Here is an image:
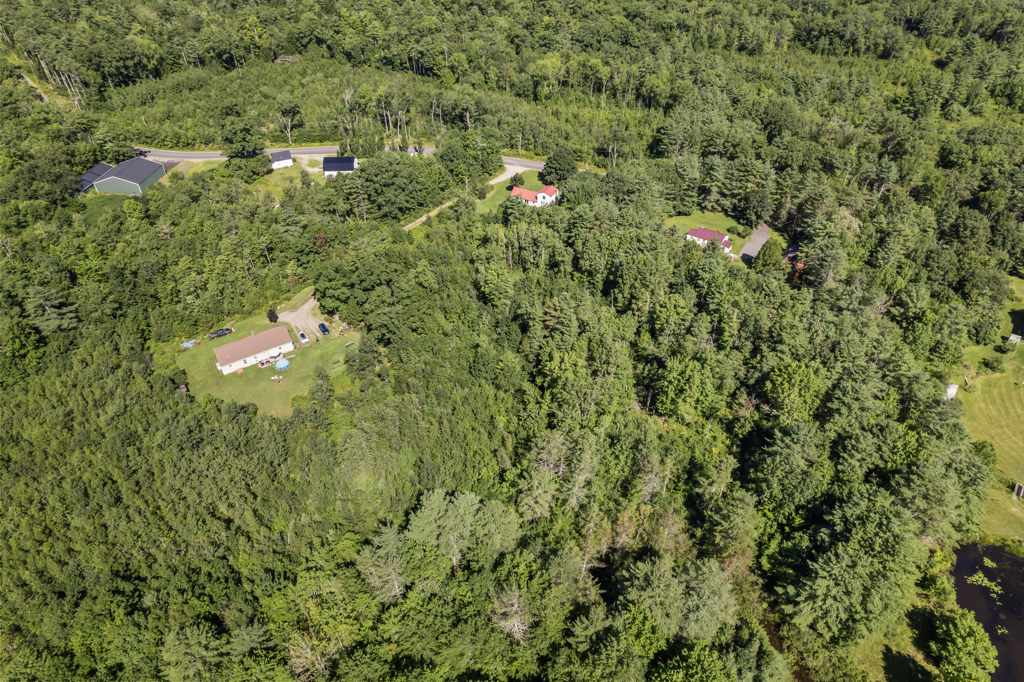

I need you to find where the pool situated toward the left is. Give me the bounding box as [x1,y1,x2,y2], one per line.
[275,358,291,372]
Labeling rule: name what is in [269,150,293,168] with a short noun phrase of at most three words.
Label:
house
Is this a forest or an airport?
forest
